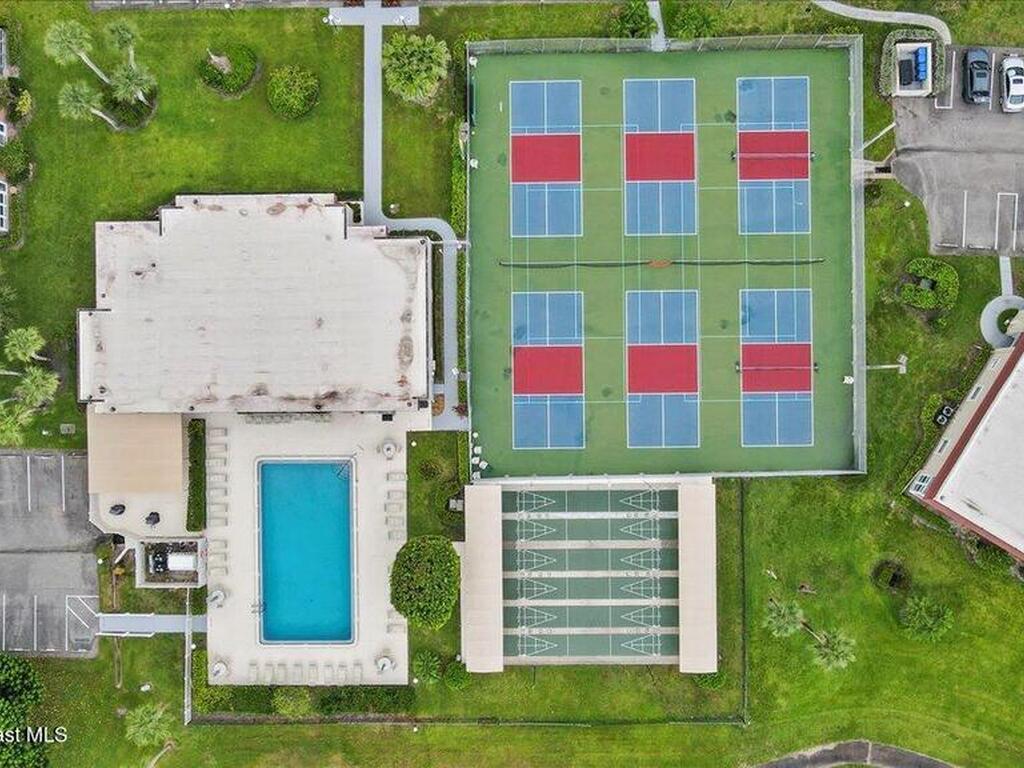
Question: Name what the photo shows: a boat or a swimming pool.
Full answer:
I can see a swimming pool in this picture.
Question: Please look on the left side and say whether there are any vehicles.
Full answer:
No, looking on the left side, there is no vehicle.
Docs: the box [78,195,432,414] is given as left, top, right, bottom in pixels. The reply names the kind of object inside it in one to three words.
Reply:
building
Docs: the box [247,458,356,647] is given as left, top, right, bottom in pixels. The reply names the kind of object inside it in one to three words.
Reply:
swimming pool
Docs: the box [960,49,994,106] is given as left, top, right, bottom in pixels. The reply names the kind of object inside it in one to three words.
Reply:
car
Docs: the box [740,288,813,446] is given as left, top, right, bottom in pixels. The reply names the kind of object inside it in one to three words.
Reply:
sports court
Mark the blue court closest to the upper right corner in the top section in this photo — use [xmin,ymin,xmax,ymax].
[738,76,811,233]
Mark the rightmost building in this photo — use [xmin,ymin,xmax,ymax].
[905,300,1024,568]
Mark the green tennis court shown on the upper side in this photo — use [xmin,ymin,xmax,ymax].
[470,48,854,477]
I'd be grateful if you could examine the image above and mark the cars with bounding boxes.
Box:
[960,49,994,106]
[1000,54,1024,112]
